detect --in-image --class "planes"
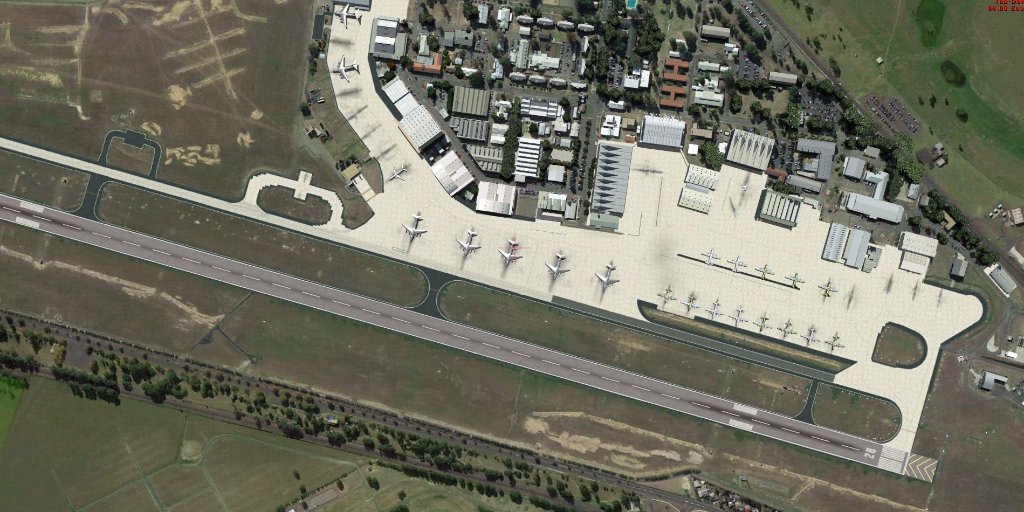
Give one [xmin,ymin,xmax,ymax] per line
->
[681,296,700,311]
[819,282,839,297]
[786,274,805,288]
[776,322,796,337]
[596,265,621,293]
[458,231,483,259]
[389,166,406,180]
[546,254,571,282]
[825,335,844,350]
[706,301,726,316]
[332,56,360,81]
[701,250,721,265]
[403,214,427,242]
[728,257,747,272]
[753,314,772,329]
[656,289,675,304]
[730,308,749,323]
[756,265,775,280]
[499,241,524,269]
[801,330,821,344]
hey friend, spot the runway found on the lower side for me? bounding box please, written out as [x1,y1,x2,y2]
[0,192,913,476]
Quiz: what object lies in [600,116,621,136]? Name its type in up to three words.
building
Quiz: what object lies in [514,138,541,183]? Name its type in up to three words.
building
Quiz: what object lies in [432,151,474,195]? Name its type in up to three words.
hangar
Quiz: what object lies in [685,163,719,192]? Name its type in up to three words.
hangar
